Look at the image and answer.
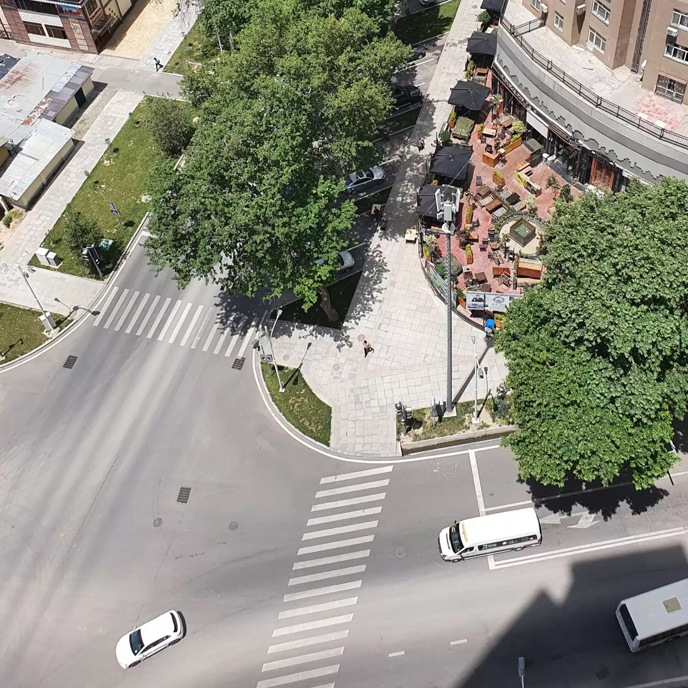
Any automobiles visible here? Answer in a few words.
Yes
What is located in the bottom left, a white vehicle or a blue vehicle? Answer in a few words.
white vehicle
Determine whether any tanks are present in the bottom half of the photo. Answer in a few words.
No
